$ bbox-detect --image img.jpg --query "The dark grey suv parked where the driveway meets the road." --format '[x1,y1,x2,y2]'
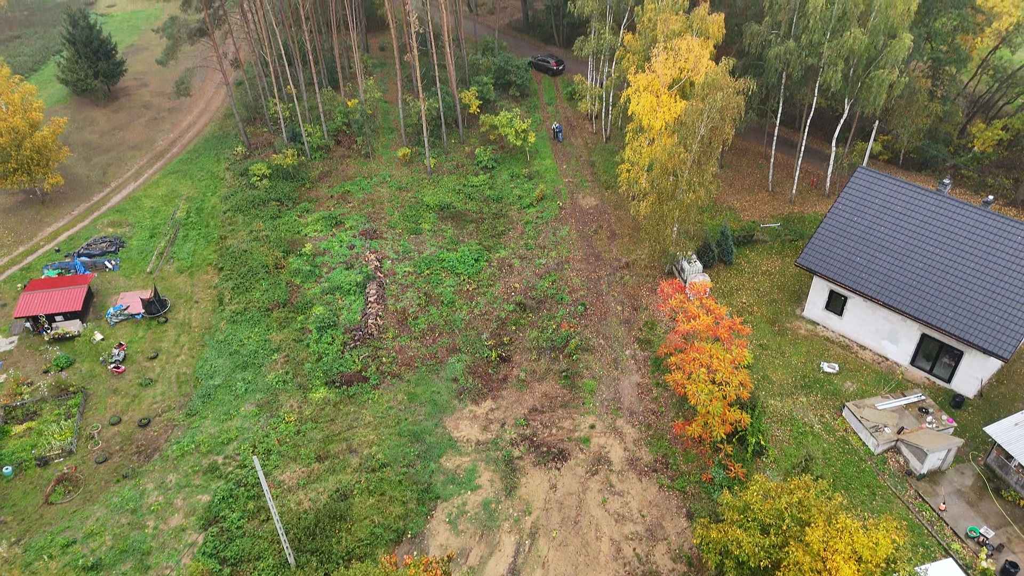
[534,54,568,73]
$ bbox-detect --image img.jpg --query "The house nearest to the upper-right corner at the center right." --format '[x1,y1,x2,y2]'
[793,167,1024,399]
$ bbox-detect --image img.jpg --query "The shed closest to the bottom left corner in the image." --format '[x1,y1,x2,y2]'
[12,273,106,342]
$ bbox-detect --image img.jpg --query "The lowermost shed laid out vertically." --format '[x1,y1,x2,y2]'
[985,411,1024,493]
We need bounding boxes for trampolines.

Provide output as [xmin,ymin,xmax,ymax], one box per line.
[137,275,172,311]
